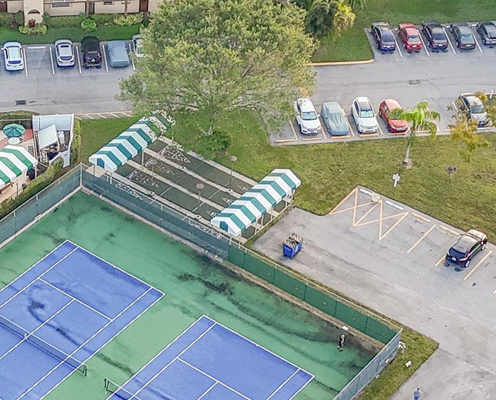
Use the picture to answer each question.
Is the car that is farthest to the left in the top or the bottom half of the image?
top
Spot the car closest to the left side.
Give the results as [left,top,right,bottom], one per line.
[1,44,23,73]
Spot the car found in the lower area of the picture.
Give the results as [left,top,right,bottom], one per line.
[445,232,487,269]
